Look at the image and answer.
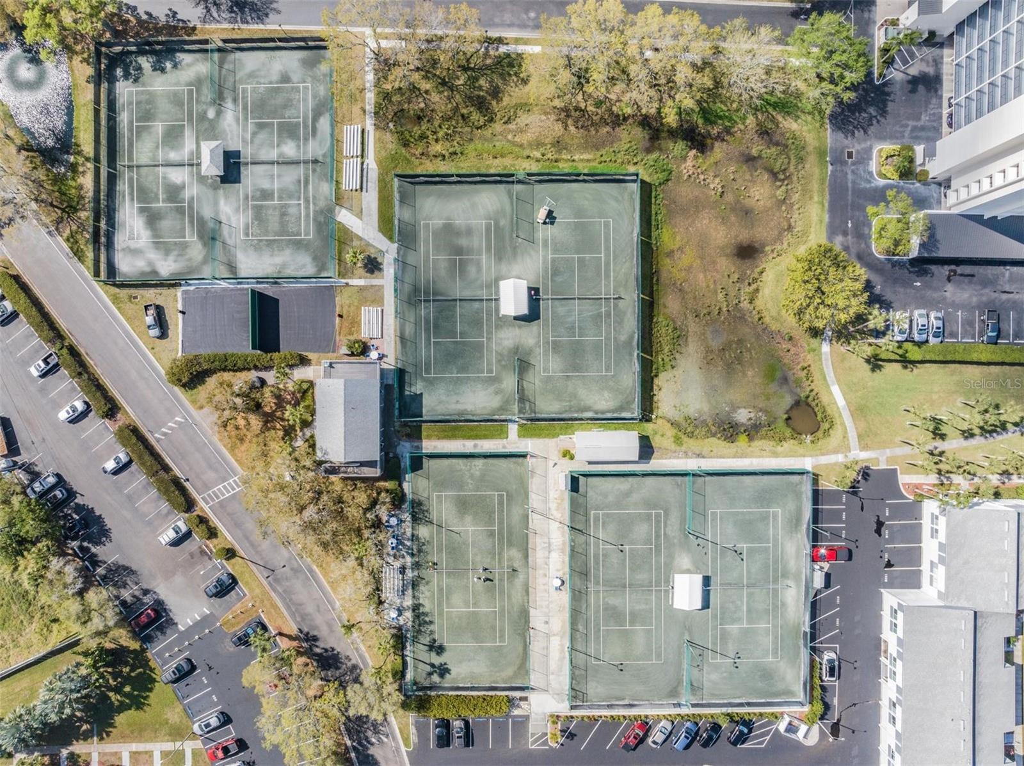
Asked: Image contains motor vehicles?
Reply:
Yes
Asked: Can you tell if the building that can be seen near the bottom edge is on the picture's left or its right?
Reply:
right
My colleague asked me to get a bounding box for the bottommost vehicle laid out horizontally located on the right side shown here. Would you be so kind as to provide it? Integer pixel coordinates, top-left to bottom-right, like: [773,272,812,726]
[813,547,851,563]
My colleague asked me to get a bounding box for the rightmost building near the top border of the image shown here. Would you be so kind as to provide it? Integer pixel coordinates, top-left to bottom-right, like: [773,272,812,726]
[909,0,1024,218]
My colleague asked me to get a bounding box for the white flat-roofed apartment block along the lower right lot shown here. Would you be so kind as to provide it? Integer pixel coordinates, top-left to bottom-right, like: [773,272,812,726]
[877,502,1024,766]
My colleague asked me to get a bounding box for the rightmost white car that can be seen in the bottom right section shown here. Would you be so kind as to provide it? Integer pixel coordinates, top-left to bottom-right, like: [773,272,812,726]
[822,650,839,682]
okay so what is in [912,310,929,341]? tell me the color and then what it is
white car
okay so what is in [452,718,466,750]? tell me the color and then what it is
gray vehicle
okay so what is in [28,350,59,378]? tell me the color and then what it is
white truck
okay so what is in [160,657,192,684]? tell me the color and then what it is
gray car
